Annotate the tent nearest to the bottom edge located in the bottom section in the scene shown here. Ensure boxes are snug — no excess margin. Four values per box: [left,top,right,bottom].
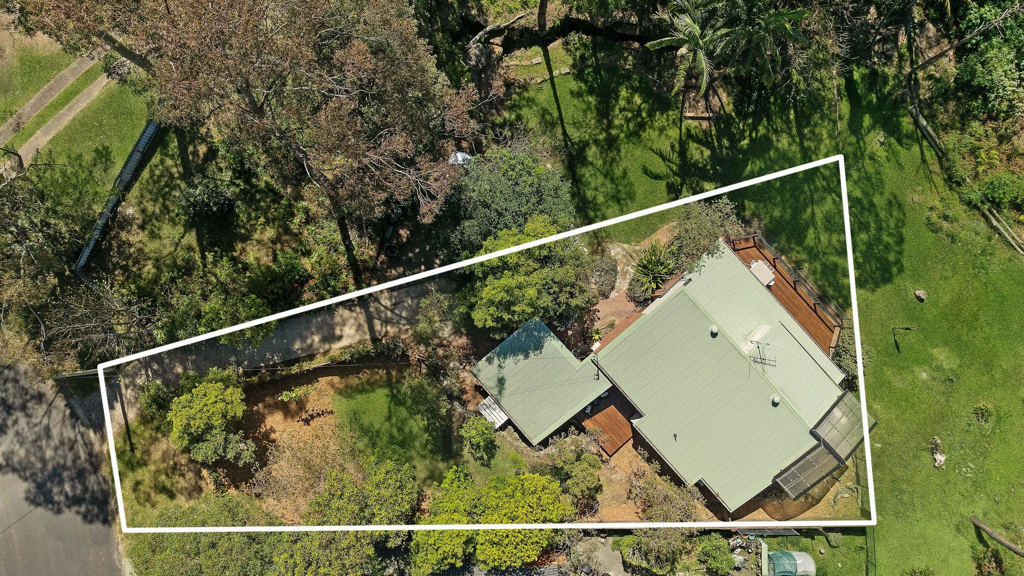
[773,549,819,576]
